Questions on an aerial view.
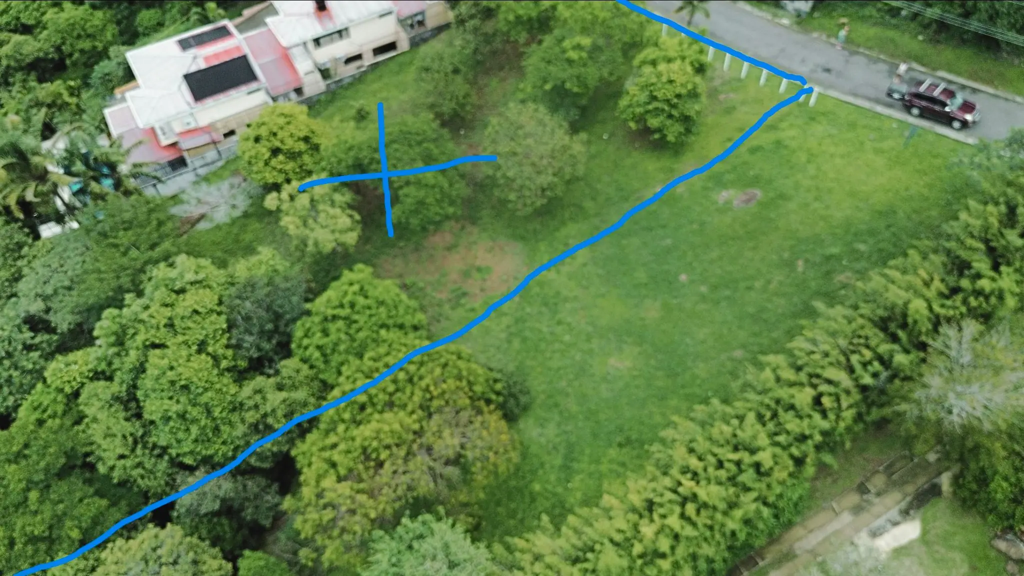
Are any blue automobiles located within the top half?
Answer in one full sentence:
No, there is no blue automobile within the top half.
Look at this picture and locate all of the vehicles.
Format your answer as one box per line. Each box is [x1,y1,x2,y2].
[886,77,986,130]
